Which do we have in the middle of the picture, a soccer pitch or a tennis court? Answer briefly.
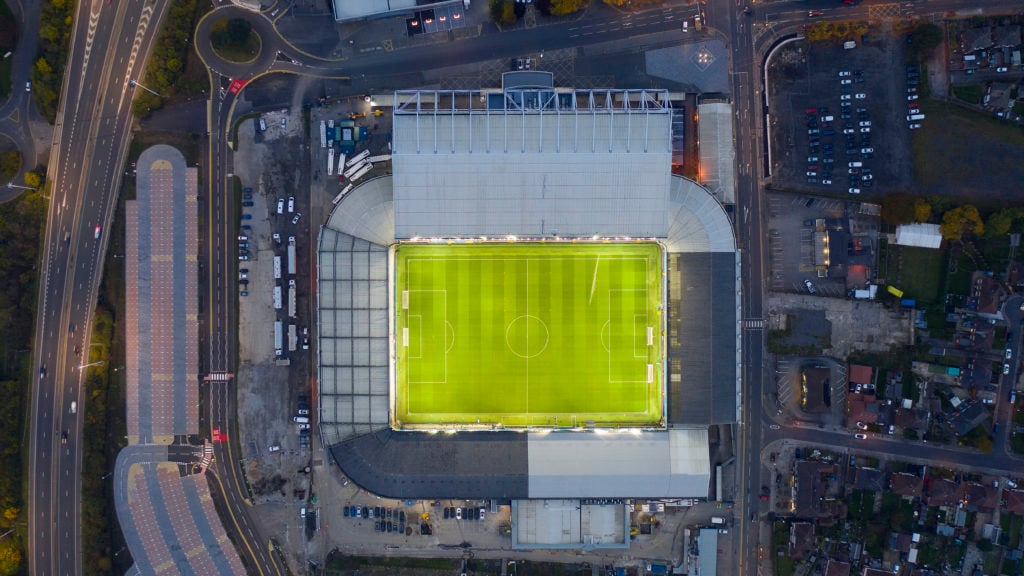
soccer pitch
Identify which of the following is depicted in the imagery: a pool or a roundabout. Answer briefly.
roundabout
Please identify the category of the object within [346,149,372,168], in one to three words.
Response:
vehicle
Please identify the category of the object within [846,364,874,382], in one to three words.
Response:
house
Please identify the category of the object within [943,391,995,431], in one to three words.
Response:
house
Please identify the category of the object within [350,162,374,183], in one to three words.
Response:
bus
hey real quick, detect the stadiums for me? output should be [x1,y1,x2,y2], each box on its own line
[316,70,742,499]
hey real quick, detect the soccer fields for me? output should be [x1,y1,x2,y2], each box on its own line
[396,242,662,425]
